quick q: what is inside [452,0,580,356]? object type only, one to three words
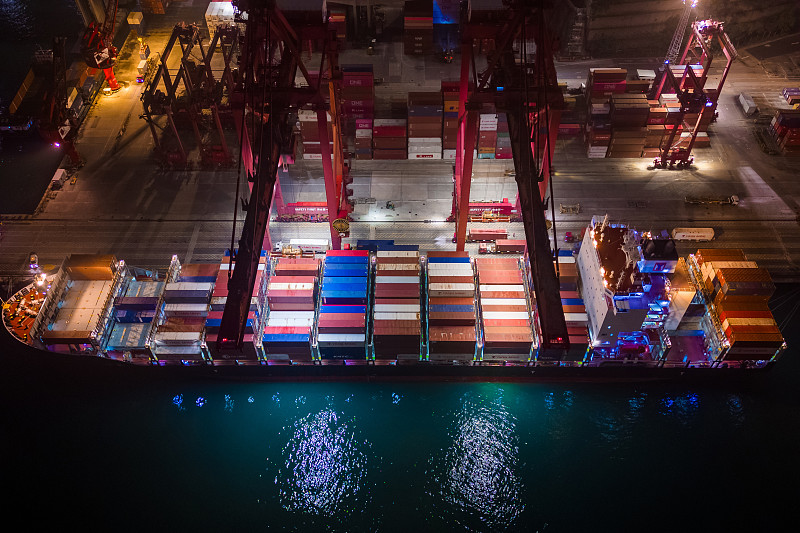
container crane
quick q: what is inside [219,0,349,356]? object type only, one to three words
container crane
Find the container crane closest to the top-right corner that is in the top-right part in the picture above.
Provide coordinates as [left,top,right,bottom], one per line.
[680,18,741,110]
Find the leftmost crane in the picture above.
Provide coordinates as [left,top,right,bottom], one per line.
[48,32,102,170]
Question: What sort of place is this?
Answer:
port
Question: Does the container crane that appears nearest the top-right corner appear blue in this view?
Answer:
No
